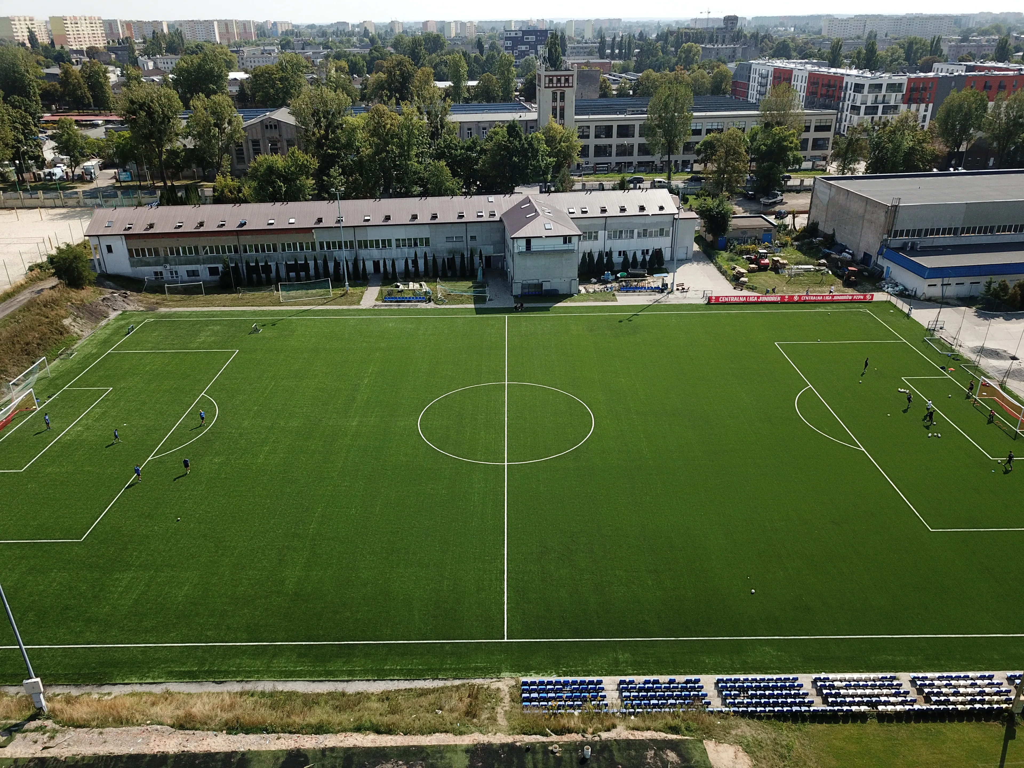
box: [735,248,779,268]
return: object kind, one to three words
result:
work vehicle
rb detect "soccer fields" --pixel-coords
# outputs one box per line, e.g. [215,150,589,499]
[0,301,1024,684]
